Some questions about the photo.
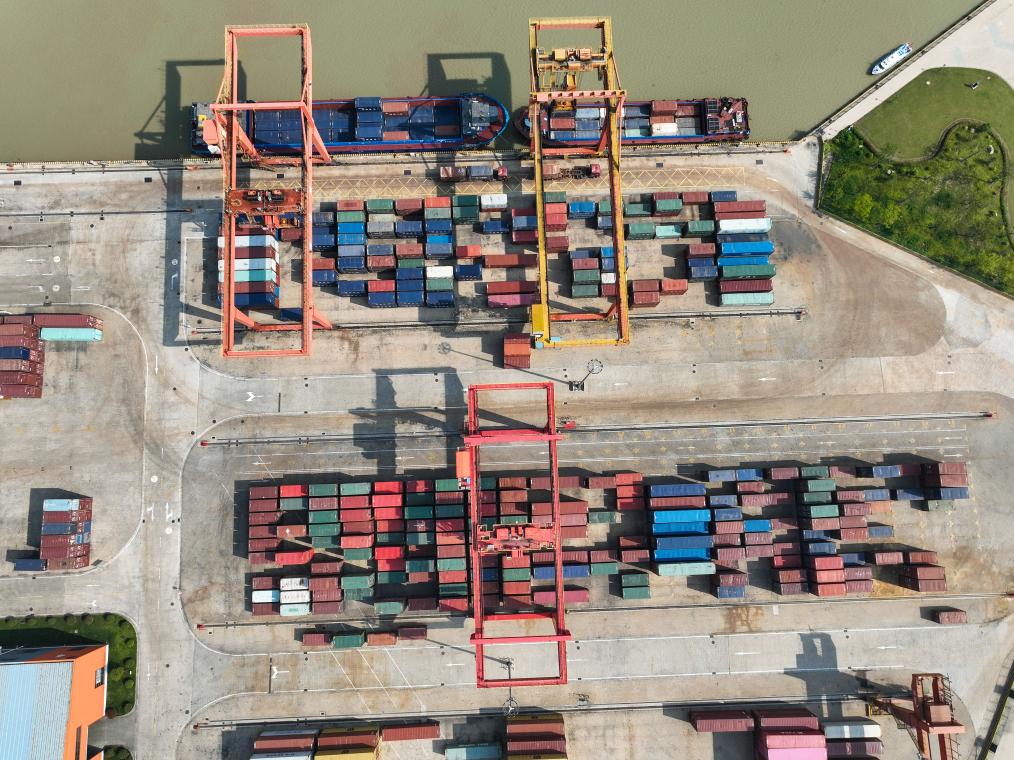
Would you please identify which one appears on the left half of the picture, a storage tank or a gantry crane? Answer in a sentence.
Looking on the left half of the picture, you will find a gantry crane.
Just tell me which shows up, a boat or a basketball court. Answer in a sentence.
There is a boat in the scene.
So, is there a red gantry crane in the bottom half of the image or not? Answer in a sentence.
Yes, there is a red gantry crane in the bottom half of the image.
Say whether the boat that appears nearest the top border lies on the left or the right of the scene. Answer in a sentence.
The boat that appears nearest the top border is on the right side of the image.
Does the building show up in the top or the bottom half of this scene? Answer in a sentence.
You can find the building in the bottom half.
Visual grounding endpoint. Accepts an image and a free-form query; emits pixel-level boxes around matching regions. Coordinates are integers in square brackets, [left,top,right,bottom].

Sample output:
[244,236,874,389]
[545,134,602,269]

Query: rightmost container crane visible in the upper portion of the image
[525,15,631,355]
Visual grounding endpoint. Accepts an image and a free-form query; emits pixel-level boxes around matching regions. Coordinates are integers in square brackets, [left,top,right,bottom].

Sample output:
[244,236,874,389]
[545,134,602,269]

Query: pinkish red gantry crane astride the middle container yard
[456,382,571,690]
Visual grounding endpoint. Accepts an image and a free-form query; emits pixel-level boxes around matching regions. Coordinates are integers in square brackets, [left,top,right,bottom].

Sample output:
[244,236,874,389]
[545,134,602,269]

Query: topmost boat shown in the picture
[872,37,917,72]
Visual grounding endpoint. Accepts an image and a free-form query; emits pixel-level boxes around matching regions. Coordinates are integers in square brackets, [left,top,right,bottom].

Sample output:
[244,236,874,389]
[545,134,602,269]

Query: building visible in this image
[0,644,110,760]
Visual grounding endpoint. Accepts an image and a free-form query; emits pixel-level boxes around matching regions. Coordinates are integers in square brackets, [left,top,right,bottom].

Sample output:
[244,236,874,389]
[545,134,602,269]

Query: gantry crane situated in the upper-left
[203,22,337,360]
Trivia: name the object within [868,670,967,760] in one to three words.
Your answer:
container crane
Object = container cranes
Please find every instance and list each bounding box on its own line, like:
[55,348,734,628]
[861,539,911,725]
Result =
[203,22,337,360]
[868,670,967,760]
[525,15,631,355]
[456,382,571,690]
